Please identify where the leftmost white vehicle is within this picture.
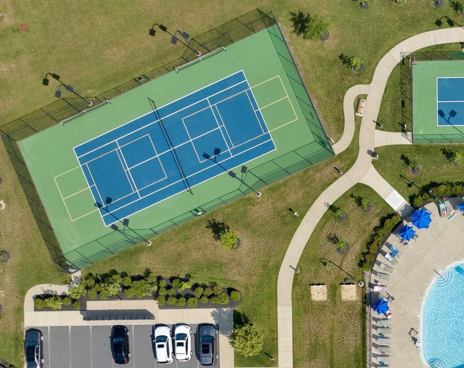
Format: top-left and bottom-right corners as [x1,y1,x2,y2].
[152,326,173,363]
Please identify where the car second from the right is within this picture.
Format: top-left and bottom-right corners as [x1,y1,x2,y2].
[172,326,191,361]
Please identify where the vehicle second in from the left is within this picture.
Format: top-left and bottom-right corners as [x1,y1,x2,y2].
[109,326,129,363]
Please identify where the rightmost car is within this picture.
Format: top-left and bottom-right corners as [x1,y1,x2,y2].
[196,325,216,364]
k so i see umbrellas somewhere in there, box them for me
[411,208,433,230]
[454,200,464,215]
[398,222,417,242]
[372,297,390,315]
